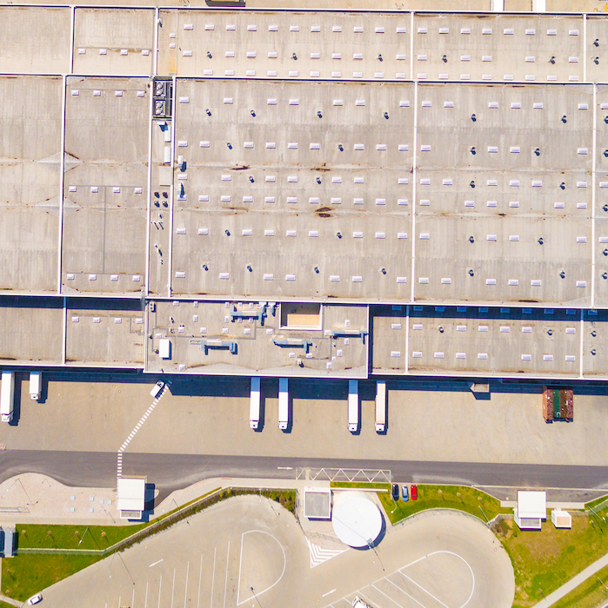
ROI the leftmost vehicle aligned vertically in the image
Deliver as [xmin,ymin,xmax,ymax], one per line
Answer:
[1,372,15,423]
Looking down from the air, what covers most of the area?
buildings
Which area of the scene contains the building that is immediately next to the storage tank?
bottom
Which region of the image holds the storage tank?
bottom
